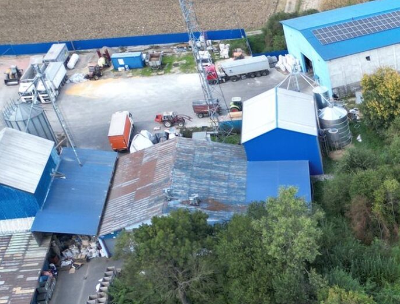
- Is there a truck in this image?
Yes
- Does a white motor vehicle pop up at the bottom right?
No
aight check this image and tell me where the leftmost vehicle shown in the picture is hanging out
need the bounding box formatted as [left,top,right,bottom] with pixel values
[4,65,20,88]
